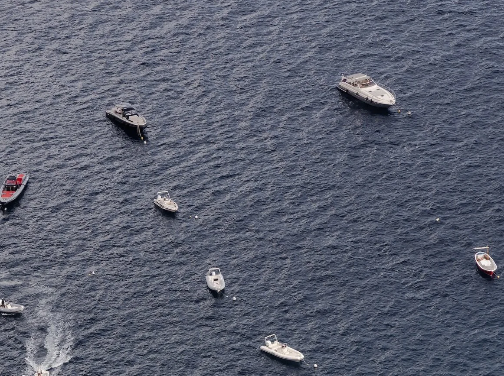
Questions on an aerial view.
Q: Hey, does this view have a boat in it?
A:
Yes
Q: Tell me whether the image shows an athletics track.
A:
No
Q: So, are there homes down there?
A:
No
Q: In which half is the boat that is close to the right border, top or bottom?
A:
bottom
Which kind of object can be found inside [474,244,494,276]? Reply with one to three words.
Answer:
boat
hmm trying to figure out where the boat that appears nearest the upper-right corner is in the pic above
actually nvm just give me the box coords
[340,73,396,109]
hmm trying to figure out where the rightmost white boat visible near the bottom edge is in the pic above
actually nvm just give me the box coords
[258,335,307,364]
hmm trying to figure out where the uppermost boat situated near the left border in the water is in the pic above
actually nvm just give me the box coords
[0,172,30,207]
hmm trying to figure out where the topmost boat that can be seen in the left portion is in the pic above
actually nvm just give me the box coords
[106,102,145,137]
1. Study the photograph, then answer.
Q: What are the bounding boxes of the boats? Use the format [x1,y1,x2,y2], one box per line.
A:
[0,301,24,311]
[340,73,396,109]
[0,172,30,207]
[258,335,307,364]
[474,244,494,276]
[152,190,178,211]
[106,102,145,137]
[206,267,227,297]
